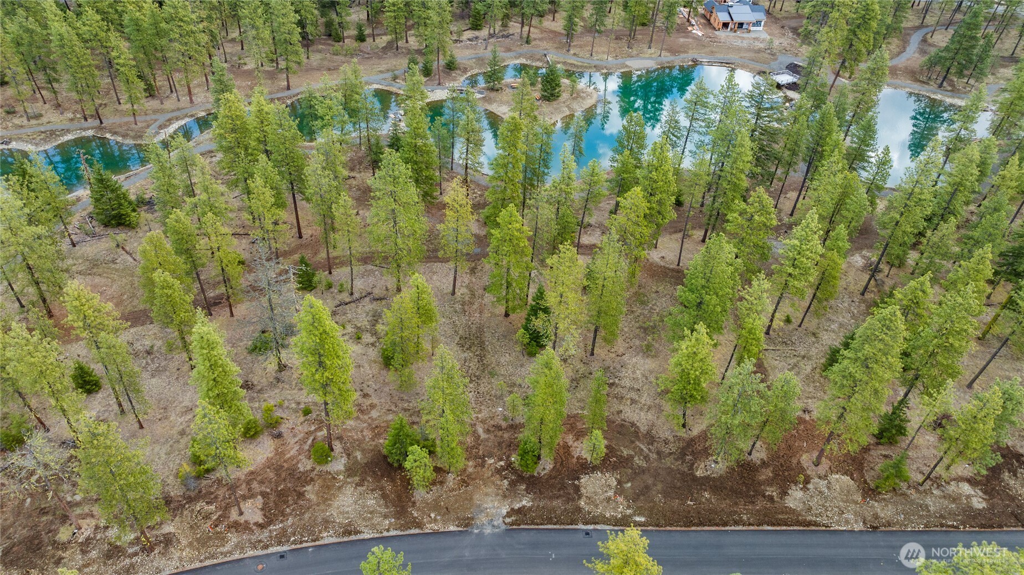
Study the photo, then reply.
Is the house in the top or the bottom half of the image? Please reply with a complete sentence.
Seen from above, the house lies in the top half of the view.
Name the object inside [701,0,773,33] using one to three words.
house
